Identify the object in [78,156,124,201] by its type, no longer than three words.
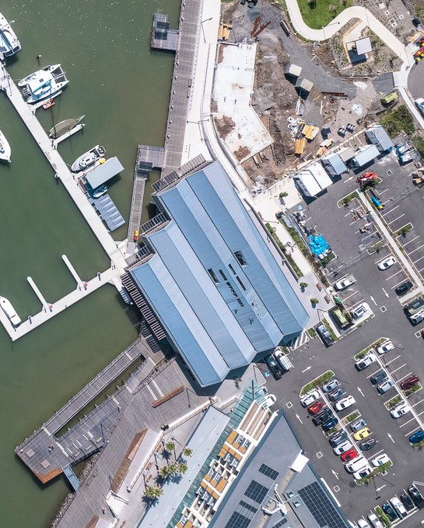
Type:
shed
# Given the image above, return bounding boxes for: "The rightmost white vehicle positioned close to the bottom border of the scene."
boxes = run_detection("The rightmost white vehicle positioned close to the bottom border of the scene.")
[389,494,409,518]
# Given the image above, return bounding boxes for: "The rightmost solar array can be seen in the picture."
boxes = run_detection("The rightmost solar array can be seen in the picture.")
[299,481,346,528]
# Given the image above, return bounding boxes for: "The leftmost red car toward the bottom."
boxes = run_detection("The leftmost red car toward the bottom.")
[307,401,325,415]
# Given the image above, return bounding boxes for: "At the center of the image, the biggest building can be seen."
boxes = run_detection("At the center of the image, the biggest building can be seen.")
[123,162,309,388]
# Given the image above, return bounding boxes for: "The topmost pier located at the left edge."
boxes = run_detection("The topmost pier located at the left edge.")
[0,256,128,340]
